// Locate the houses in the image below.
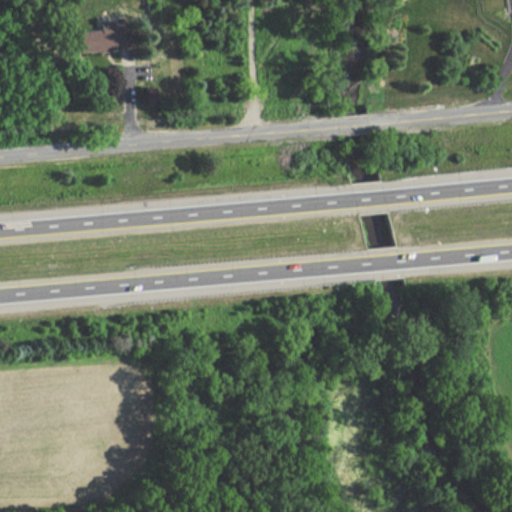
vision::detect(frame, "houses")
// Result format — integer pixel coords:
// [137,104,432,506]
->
[84,18,126,54]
